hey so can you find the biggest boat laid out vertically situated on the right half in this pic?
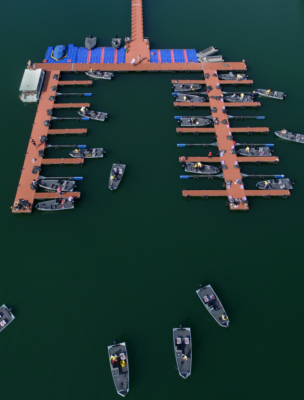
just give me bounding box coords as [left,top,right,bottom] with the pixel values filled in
[173,323,193,378]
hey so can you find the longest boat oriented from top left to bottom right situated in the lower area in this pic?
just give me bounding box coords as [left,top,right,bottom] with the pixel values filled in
[196,283,230,326]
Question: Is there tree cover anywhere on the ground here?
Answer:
No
